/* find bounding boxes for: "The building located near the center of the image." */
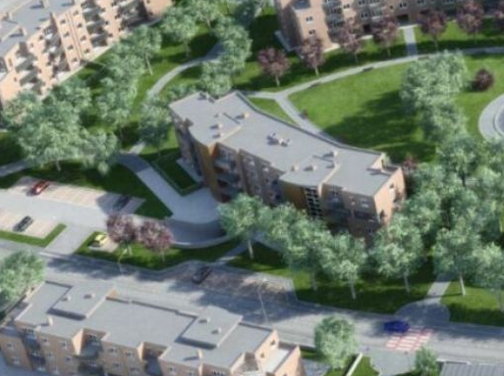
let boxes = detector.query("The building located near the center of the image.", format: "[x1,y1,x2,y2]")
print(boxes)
[169,92,405,241]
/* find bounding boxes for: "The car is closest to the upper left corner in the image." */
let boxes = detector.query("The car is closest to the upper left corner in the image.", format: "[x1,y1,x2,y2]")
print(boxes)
[29,177,49,193]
